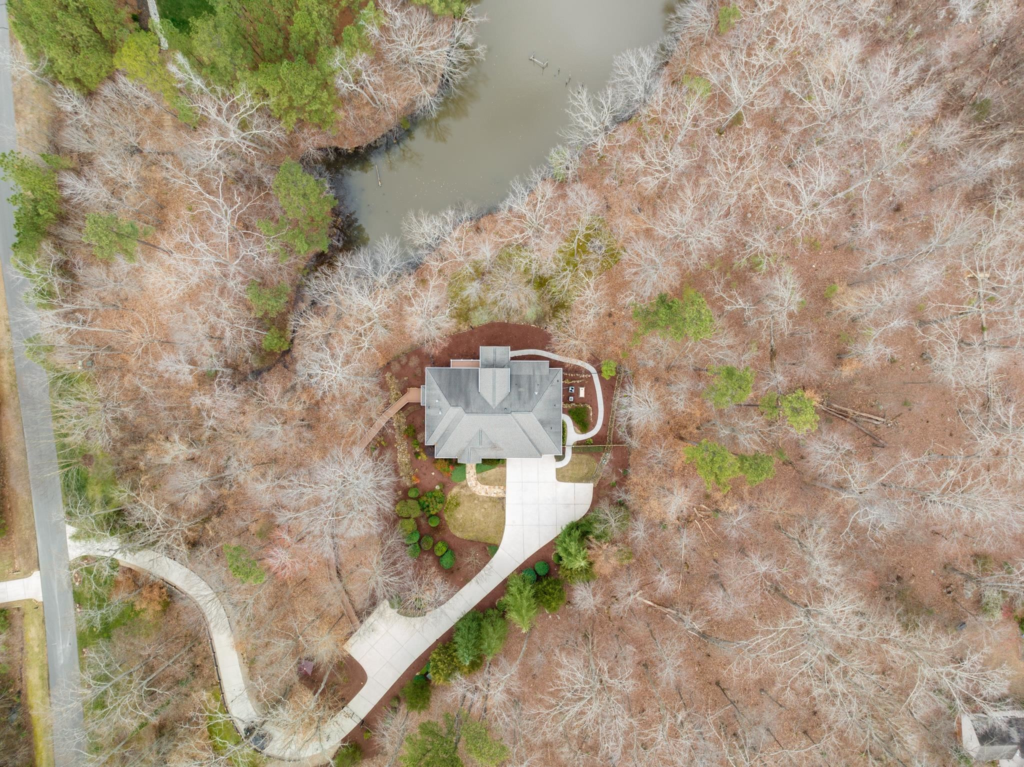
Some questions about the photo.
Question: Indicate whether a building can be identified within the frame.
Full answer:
Yes, this view includes a building.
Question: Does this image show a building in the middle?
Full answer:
Yes, looking in the middle, one can make out a building.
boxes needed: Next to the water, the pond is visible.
[302,0,682,288]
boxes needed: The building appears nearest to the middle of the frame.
[420,346,563,464]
